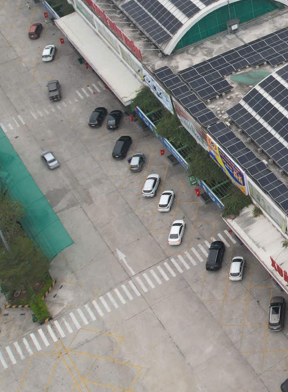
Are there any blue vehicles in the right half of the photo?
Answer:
No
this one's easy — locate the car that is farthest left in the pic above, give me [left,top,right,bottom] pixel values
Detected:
[27,24,44,39]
